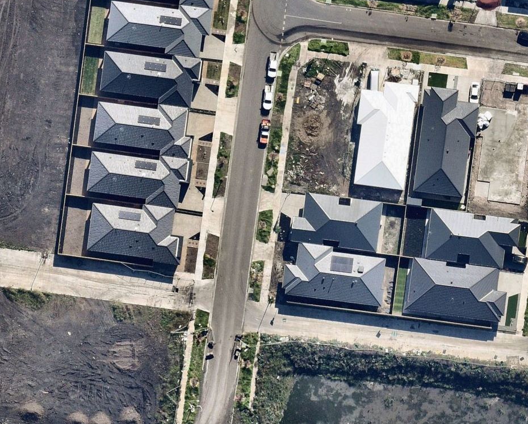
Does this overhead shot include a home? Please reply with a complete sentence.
Yes, a home is visible in the scene.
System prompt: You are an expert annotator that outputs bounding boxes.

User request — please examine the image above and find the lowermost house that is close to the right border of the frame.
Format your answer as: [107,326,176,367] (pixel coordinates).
[407,257,507,322]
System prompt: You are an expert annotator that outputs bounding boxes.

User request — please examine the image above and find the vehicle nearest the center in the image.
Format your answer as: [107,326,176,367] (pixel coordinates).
[259,118,271,146]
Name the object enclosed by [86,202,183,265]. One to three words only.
house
